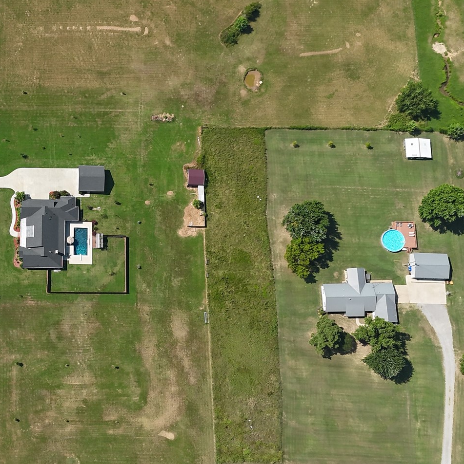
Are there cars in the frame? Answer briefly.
No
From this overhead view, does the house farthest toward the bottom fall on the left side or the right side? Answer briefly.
right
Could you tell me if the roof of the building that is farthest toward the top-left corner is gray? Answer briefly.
Yes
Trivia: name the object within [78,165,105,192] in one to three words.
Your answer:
building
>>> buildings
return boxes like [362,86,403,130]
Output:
[402,137,432,160]
[187,169,205,186]
[78,165,105,192]
[321,267,397,322]
[19,196,78,268]
[410,253,451,280]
